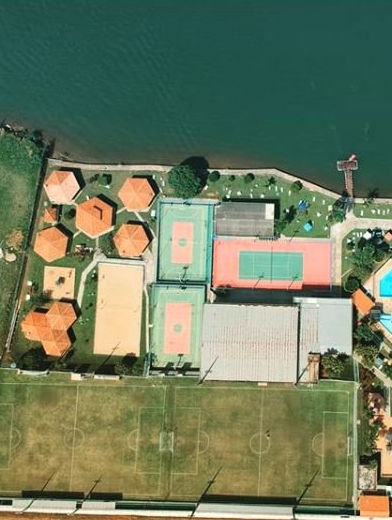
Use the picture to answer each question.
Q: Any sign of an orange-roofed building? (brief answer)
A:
Yes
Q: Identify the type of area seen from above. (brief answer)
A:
sports ground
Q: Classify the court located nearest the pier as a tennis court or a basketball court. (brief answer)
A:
tennis court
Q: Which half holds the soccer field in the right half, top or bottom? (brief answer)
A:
bottom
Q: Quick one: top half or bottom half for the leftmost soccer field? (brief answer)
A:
bottom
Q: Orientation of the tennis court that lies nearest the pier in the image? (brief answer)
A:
horizontally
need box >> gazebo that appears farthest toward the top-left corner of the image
[46,171,84,205]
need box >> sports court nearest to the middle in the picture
[158,199,214,281]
